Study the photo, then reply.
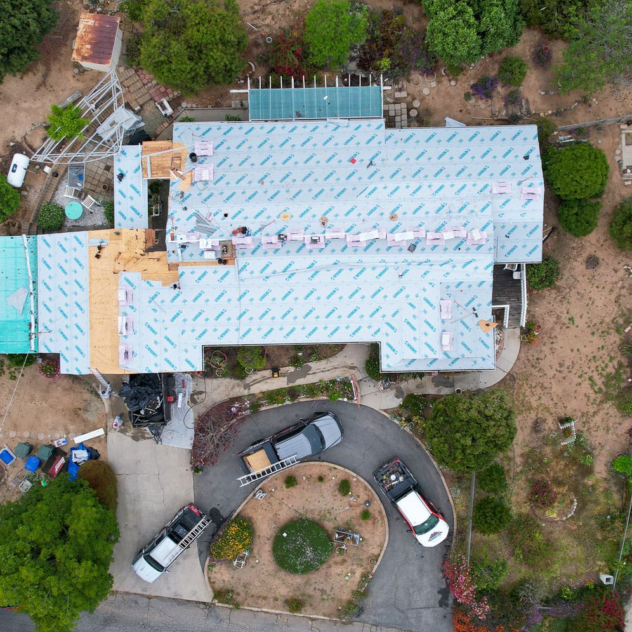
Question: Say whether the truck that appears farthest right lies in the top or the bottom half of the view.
bottom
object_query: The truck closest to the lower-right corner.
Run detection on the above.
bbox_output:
[373,456,444,547]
